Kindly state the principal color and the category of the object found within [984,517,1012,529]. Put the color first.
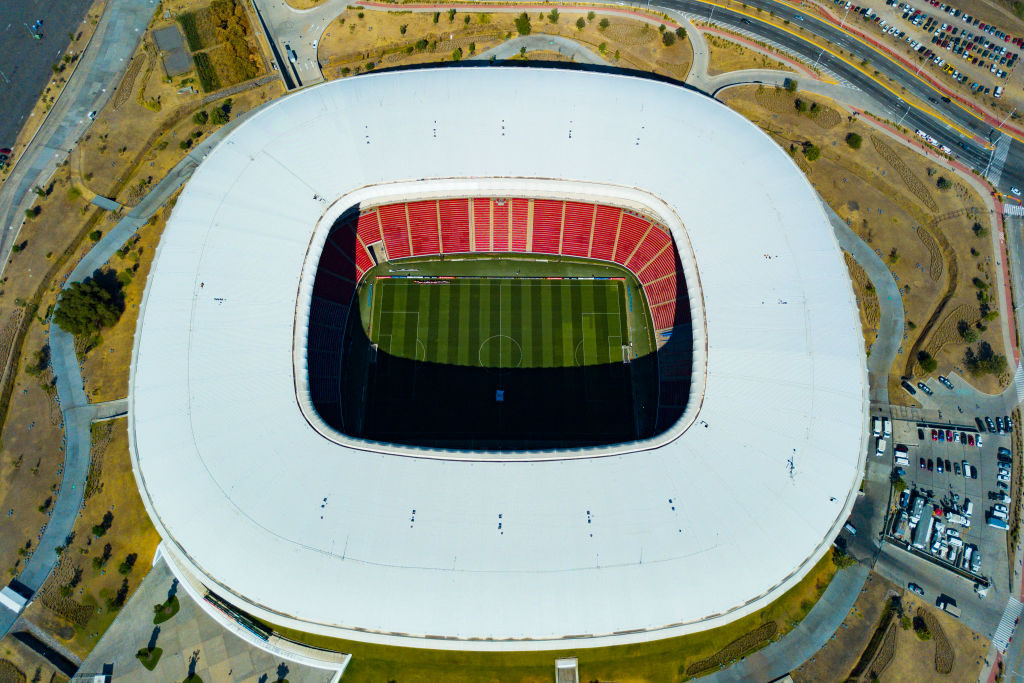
blue vehicle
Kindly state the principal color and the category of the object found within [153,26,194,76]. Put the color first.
gray sports court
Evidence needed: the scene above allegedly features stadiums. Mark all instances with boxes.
[126,65,871,651]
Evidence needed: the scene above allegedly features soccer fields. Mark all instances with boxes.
[359,275,639,444]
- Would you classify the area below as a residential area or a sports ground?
sports ground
